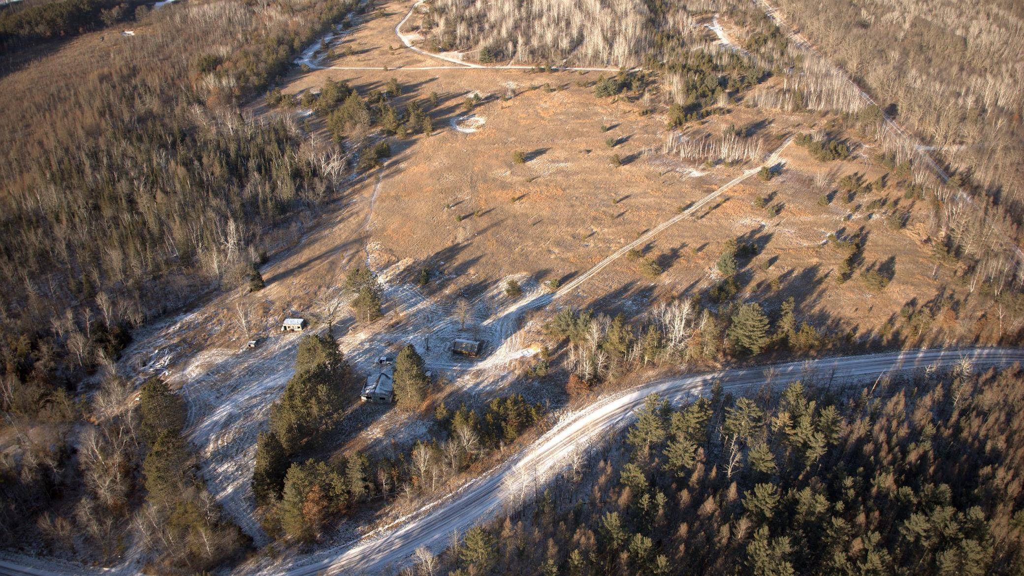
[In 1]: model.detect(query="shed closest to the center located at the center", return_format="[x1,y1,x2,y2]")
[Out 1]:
[451,338,480,357]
